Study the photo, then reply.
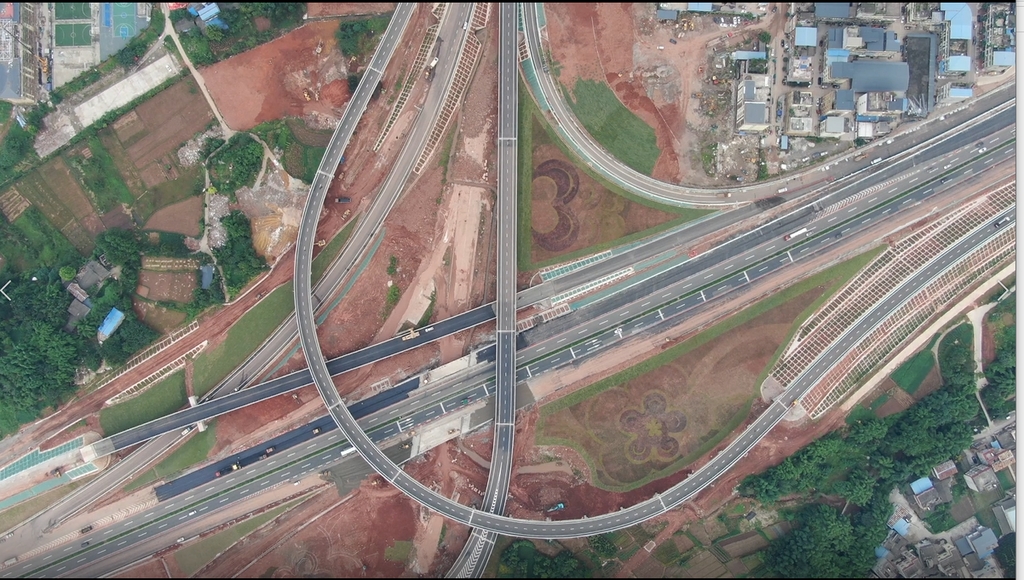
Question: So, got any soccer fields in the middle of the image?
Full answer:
No, I can find no soccer field in the middle of the image.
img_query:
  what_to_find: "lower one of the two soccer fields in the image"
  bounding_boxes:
[53,22,92,47]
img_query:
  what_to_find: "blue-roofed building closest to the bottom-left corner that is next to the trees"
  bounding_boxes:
[99,308,127,335]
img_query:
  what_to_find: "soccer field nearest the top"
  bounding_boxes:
[53,0,92,20]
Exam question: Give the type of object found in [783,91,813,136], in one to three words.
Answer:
building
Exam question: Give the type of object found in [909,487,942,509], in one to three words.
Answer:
house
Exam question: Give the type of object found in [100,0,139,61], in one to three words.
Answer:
basketball court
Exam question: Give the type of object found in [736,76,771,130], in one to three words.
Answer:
building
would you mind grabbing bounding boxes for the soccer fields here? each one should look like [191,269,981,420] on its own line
[53,0,92,20]
[53,22,92,47]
